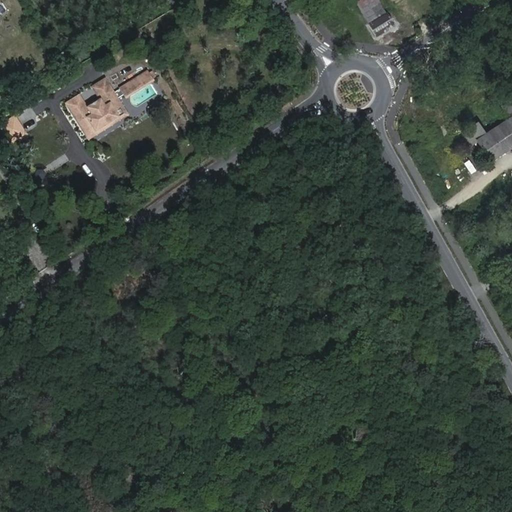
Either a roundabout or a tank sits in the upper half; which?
roundabout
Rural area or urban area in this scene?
rural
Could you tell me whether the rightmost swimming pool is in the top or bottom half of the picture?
top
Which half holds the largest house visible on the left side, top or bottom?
top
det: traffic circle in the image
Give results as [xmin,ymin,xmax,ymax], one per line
[319,54,392,127]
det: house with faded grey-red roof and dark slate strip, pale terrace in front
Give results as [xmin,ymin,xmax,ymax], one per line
[359,0,402,38]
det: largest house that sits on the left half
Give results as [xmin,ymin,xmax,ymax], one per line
[65,75,130,142]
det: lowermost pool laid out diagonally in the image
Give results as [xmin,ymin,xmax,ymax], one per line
[128,82,158,106]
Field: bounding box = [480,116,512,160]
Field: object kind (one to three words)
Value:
house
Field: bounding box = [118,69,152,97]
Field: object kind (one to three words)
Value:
shed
